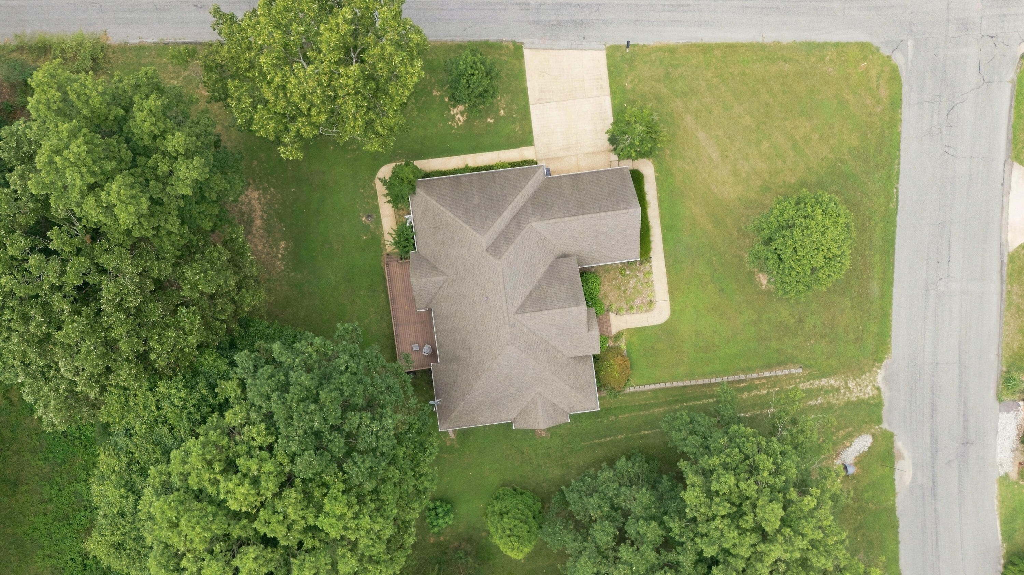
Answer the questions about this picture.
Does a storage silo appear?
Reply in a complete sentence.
No, I can see no storage silo in this picture.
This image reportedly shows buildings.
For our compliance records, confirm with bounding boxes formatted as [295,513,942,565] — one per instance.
[409,163,640,432]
